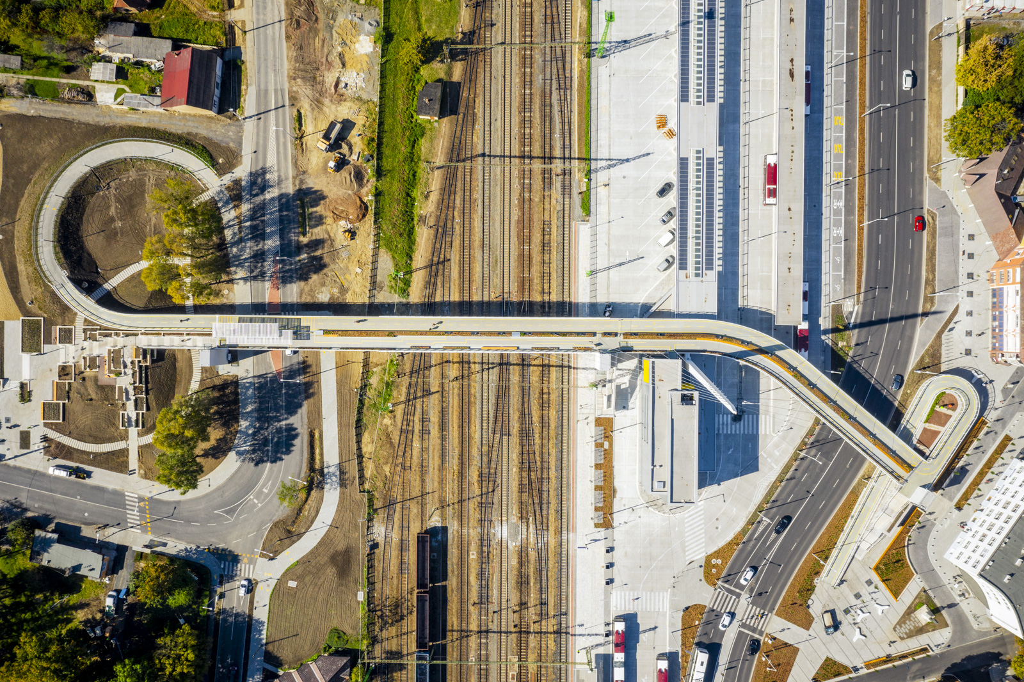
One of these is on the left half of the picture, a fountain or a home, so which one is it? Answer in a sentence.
There is a home on the left half of the picture.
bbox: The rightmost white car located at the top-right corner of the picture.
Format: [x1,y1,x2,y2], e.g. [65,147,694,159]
[901,69,914,91]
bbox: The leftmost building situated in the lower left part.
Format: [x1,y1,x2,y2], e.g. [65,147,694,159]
[29,526,119,580]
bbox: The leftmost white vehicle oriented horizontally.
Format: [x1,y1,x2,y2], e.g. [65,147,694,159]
[48,466,72,478]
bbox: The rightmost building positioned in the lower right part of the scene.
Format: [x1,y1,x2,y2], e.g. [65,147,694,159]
[941,445,1024,639]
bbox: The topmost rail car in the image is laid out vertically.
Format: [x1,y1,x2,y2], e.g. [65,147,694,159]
[416,531,430,589]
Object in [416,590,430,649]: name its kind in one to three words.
rail car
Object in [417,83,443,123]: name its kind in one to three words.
shed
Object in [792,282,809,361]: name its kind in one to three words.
vehicle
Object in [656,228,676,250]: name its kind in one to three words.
car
